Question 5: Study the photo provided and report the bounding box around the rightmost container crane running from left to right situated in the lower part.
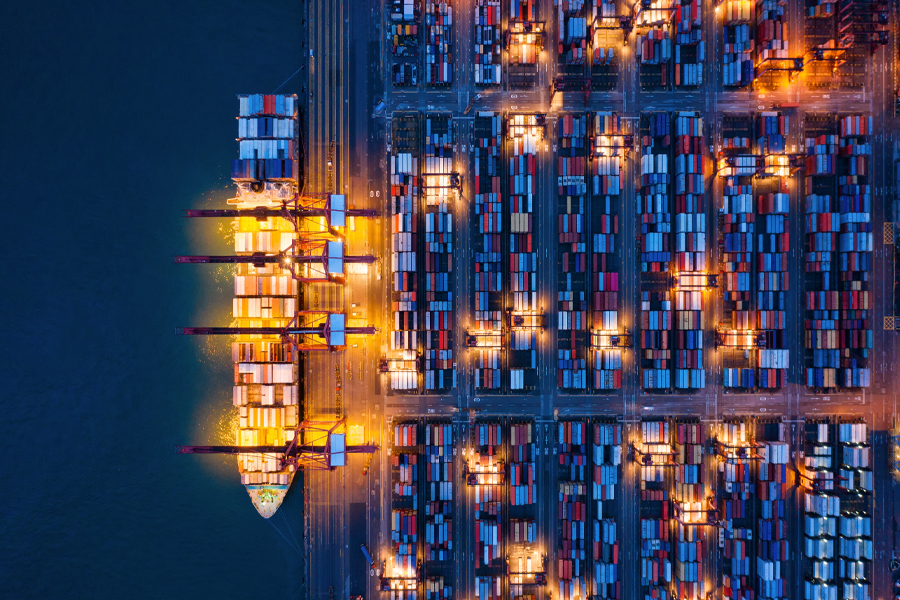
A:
[796,471,849,492]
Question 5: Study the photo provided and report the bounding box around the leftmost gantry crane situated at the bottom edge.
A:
[380,567,421,591]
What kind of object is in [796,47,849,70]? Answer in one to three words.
container crane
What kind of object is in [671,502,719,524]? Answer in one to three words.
container crane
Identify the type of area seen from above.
port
